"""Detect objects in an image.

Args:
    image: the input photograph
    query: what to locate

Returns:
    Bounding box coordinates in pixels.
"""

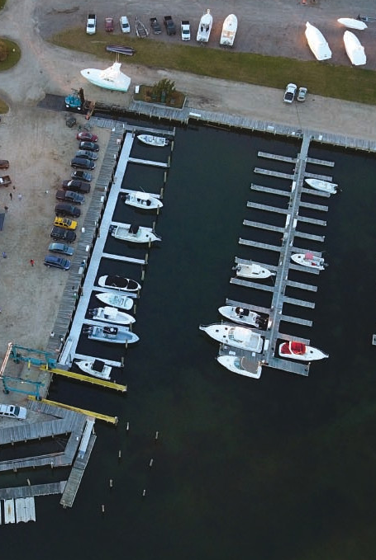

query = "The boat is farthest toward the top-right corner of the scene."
[337,17,368,34]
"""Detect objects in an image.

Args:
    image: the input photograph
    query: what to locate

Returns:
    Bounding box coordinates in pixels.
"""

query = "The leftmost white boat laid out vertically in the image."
[195,7,214,44]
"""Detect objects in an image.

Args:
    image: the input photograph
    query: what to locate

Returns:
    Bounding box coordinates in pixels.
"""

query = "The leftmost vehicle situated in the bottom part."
[0,401,29,422]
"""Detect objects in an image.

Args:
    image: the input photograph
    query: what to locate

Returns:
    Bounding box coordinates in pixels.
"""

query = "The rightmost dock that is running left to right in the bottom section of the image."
[219,345,309,376]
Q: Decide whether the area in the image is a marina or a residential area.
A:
marina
